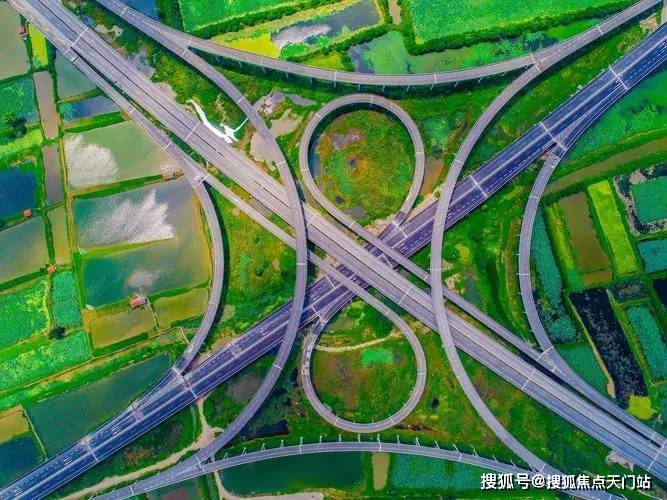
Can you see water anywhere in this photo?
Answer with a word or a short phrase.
Yes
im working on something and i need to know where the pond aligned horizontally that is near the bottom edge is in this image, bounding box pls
[391,457,528,490]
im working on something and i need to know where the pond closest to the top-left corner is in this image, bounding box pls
[0,75,40,139]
